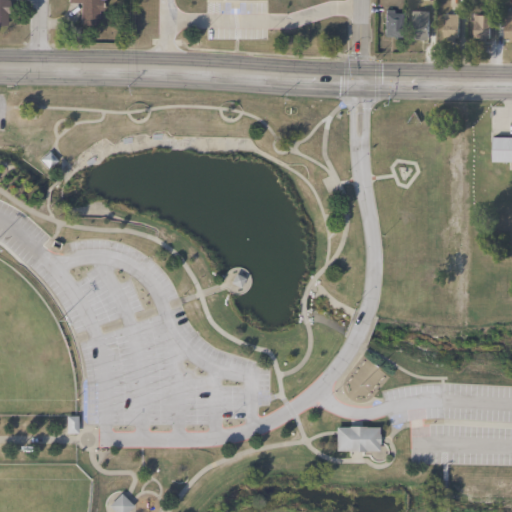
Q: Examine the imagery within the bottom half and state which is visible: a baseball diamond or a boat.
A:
baseball diamond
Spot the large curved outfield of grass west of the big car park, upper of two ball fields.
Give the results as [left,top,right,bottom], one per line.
[0,259,77,416]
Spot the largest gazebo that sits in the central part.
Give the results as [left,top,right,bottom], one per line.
[232,272,248,288]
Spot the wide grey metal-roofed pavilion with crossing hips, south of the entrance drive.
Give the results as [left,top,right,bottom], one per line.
[338,426,382,454]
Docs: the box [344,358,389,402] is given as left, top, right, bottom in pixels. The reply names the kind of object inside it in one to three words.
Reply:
playground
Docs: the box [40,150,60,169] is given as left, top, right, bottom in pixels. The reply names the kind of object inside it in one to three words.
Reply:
gazebo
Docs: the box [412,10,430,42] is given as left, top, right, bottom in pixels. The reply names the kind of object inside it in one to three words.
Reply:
house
